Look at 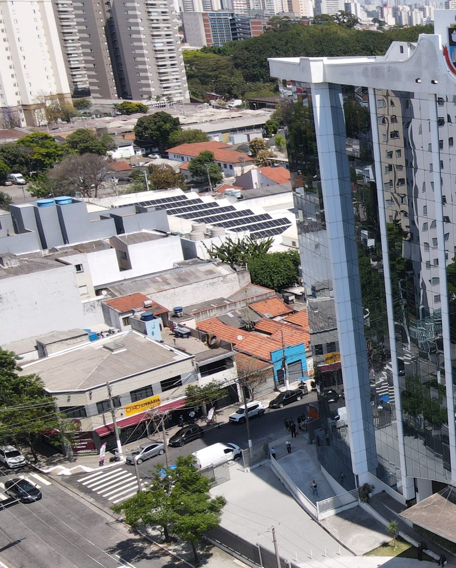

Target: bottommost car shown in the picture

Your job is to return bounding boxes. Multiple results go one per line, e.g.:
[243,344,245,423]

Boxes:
[5,477,42,502]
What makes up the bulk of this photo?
buildings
